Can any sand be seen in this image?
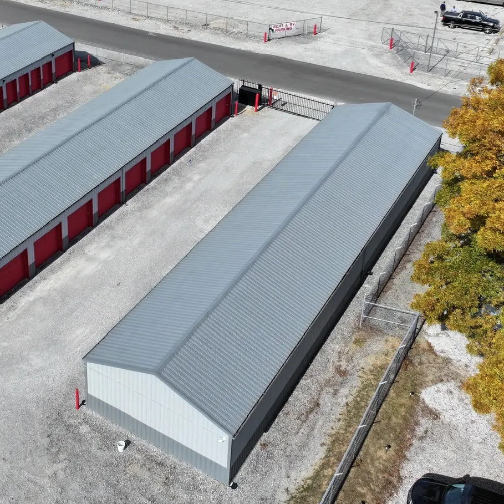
No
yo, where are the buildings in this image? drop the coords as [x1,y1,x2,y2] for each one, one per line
[81,102,442,484]
[0,57,235,308]
[0,20,77,115]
